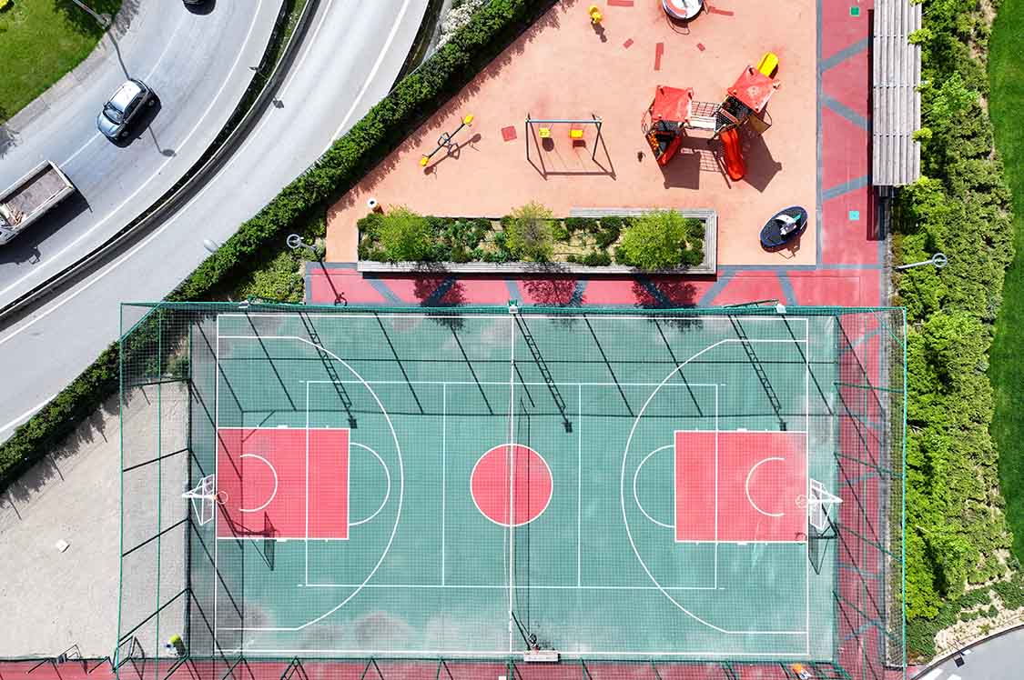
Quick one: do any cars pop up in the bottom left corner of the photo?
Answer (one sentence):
No, the scene shows no car in the bottom left corner of the photo.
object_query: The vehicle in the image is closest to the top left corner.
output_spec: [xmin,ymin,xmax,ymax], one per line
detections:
[99,77,157,139]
